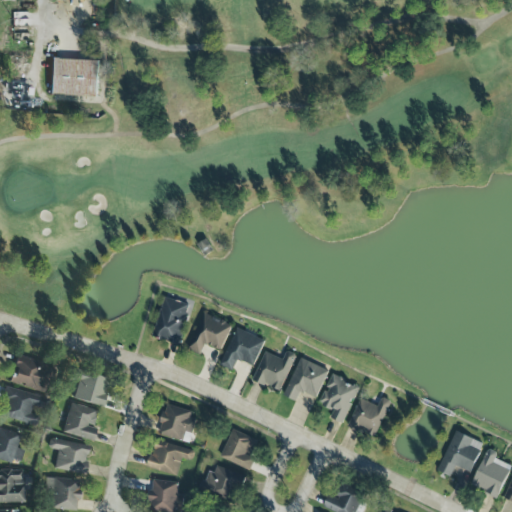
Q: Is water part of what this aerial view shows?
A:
Yes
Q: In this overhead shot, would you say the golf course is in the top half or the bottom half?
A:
top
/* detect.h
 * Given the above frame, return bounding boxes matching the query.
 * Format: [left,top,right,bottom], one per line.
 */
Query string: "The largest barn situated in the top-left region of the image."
[46,57,99,96]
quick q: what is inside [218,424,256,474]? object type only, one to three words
house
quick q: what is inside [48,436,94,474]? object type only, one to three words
house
